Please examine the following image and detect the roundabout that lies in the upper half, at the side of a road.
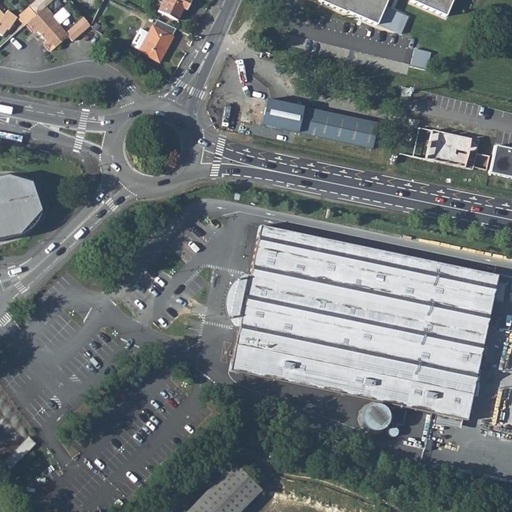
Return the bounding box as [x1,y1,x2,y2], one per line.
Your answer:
[102,96,202,196]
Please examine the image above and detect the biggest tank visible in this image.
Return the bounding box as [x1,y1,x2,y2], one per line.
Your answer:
[358,400,392,430]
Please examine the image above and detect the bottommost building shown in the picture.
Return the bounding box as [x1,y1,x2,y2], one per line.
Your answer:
[193,467,262,512]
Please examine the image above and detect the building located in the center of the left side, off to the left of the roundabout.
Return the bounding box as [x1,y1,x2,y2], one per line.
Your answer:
[0,174,43,238]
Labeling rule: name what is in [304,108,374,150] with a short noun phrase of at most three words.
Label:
building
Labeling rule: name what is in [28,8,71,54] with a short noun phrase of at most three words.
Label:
house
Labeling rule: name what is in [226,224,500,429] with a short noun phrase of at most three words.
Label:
building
